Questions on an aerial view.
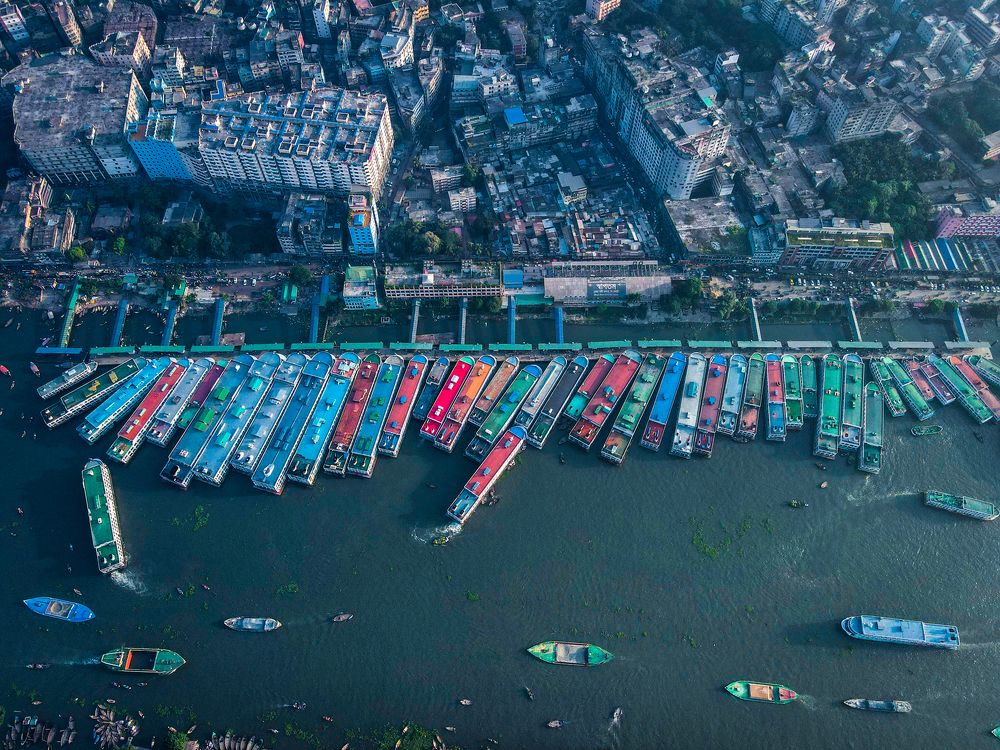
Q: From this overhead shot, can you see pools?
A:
No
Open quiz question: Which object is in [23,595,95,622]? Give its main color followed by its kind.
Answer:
blue boat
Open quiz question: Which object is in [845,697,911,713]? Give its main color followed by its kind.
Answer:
blue boat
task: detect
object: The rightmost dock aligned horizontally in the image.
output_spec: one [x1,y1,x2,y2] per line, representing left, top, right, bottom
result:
[937,341,996,362]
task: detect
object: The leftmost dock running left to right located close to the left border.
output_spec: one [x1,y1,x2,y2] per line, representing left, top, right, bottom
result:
[30,346,90,367]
